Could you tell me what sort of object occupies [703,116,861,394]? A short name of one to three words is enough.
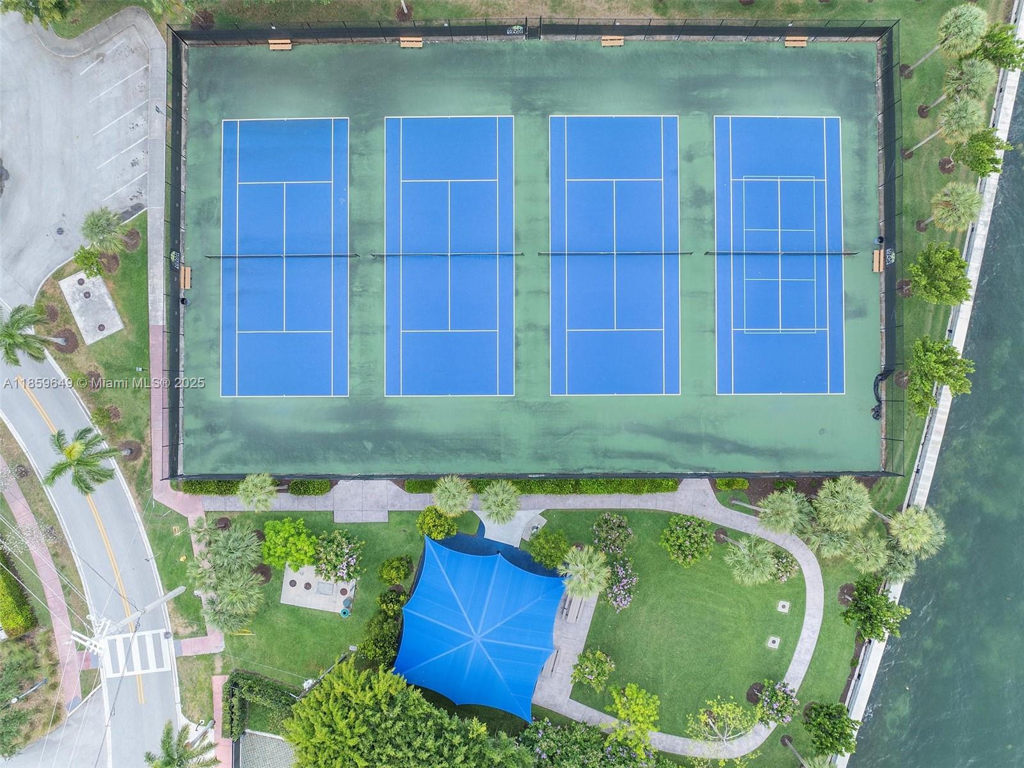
tennis court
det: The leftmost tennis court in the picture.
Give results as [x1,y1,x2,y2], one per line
[204,119,361,397]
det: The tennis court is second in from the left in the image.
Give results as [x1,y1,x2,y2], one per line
[371,117,526,395]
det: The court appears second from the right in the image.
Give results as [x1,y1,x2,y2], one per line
[539,116,694,394]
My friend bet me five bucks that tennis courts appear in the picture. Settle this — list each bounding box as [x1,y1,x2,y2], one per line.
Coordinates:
[371,117,526,395]
[703,116,861,394]
[204,119,361,397]
[539,116,694,394]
